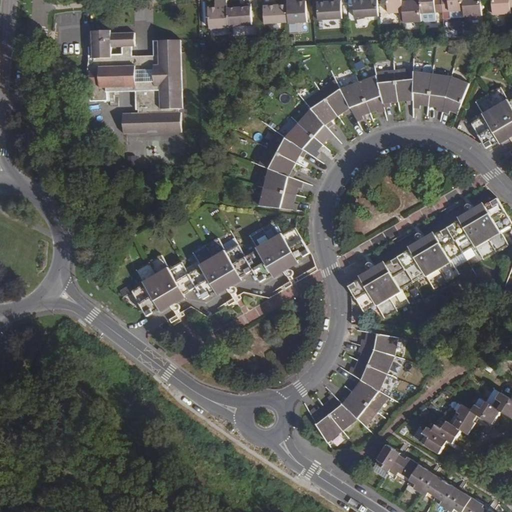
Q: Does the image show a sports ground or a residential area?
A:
residential area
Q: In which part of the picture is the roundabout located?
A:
bottom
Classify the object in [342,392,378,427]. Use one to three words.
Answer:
house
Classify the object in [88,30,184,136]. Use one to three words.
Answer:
building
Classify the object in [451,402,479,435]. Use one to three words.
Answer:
house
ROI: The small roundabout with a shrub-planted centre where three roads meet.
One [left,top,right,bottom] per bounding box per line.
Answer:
[220,381,308,464]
